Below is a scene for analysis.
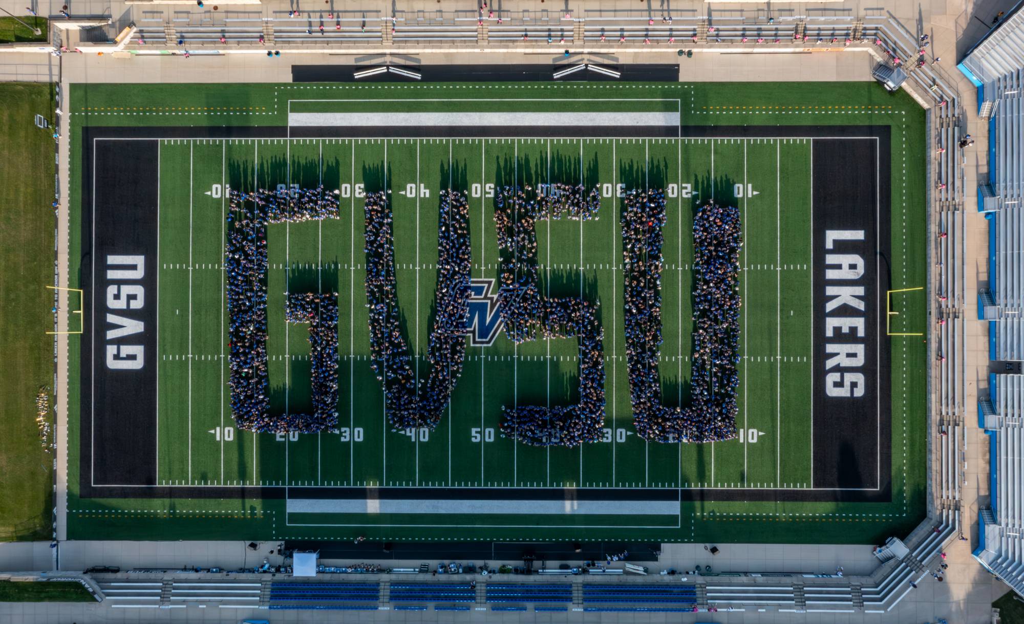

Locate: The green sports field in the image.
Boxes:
[66,81,927,545]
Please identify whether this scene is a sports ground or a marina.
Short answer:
sports ground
